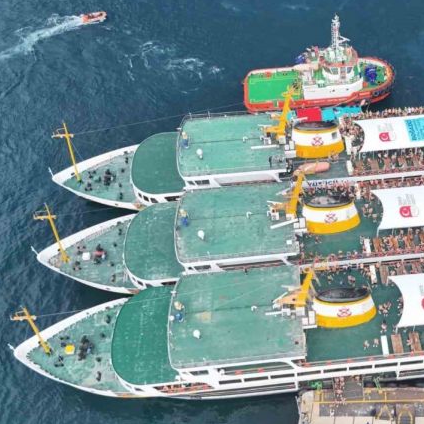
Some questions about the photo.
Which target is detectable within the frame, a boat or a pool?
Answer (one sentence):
This aerial view contains a boat.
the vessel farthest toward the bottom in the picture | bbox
[3,257,424,402]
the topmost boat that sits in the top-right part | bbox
[242,12,397,116]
